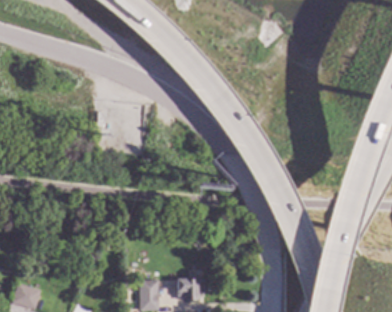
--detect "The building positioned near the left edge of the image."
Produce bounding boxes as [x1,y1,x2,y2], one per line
[14,286,40,310]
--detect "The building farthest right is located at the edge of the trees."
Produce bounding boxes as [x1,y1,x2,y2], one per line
[166,276,207,304]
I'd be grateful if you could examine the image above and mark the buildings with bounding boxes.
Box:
[140,281,160,310]
[166,276,207,304]
[14,286,40,310]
